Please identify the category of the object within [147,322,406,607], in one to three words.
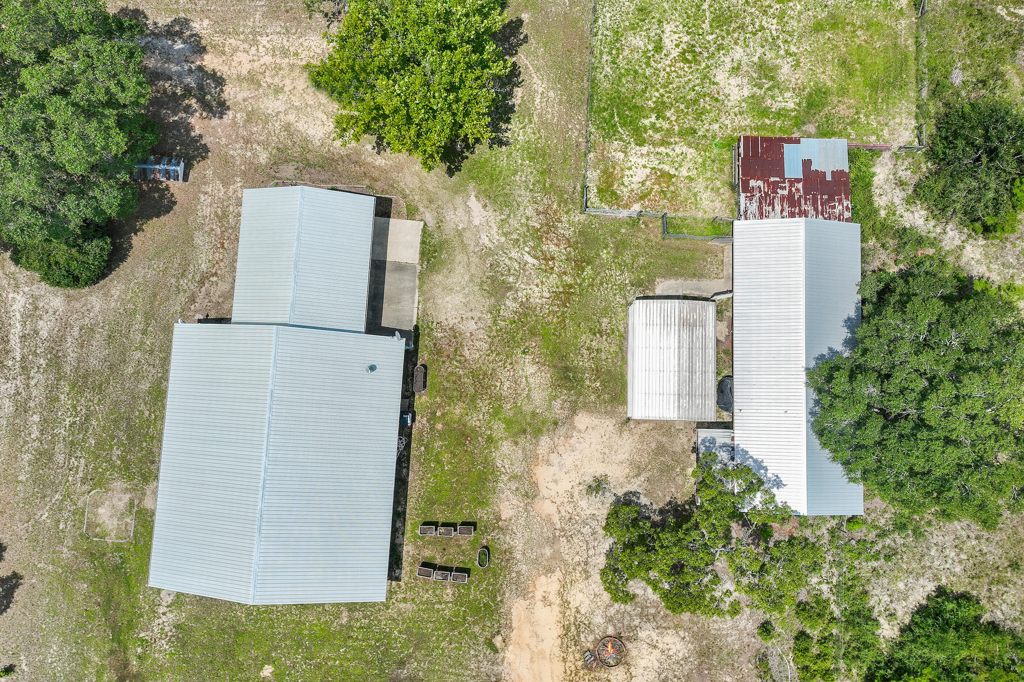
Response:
house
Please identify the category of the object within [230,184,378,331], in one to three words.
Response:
building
